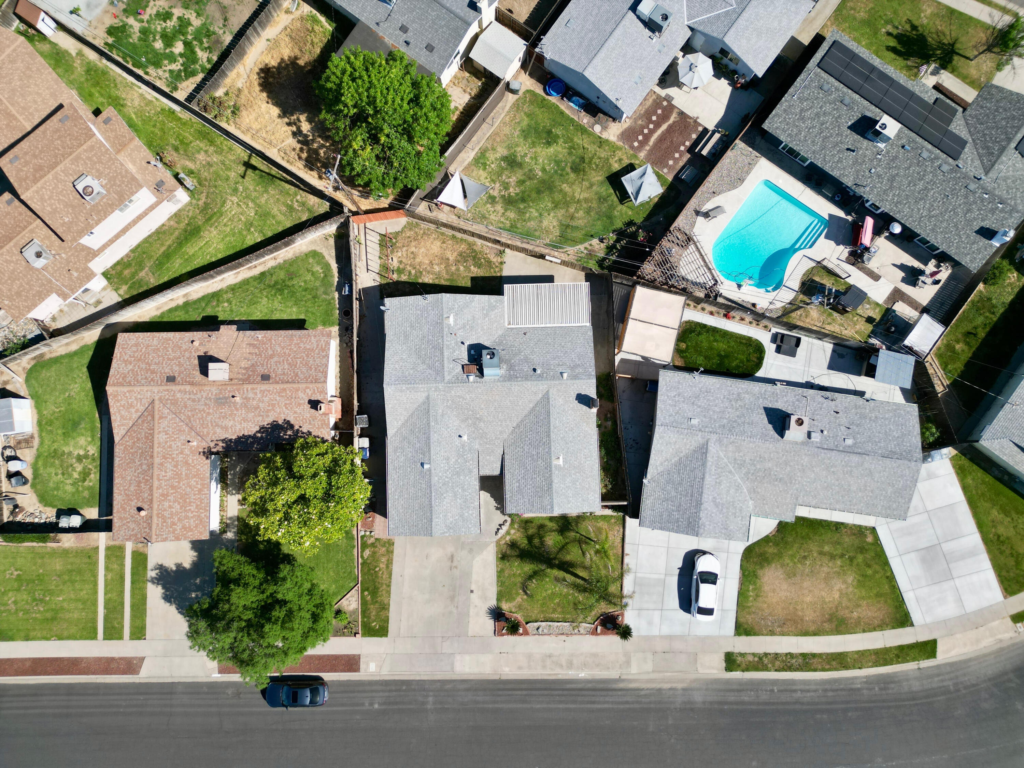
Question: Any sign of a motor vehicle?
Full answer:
Yes, I can see a motor vehicle in this picture.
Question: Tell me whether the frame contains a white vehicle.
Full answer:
Yes, a white vehicle is visible in the scene.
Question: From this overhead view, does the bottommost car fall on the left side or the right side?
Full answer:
The bottommost car appears in the left half of the scene.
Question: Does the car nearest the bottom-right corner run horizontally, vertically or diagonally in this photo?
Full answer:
In this picture, the car nearest the bottom-right corner lies vertically.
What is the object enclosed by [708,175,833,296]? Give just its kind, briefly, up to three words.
swimming pool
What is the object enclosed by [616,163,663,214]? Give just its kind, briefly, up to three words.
tent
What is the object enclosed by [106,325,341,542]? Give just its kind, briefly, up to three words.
house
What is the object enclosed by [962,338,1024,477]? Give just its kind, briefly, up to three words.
house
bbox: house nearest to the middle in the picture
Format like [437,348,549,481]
[383,293,603,536]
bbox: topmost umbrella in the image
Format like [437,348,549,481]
[678,53,714,88]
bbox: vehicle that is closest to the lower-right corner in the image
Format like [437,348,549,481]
[690,552,725,622]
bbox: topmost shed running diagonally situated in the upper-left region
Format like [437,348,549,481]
[13,0,61,39]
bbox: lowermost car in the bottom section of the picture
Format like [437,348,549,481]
[267,678,331,713]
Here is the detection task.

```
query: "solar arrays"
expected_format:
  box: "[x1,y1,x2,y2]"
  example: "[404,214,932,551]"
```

[818,41,967,159]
